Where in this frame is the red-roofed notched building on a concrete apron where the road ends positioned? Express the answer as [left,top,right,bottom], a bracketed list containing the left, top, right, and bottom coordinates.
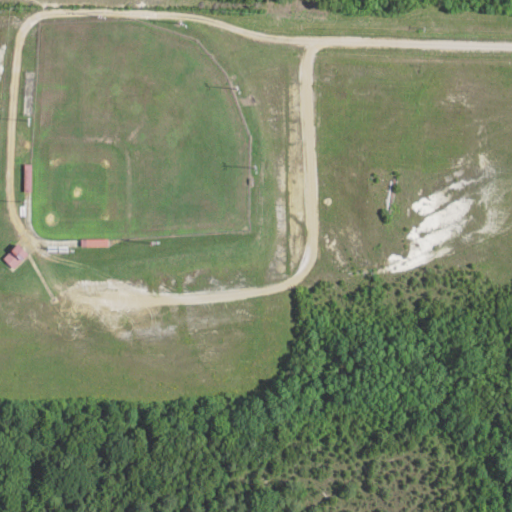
[4,244,31,272]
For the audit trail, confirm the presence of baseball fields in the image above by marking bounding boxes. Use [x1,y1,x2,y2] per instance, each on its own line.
[32,19,250,242]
